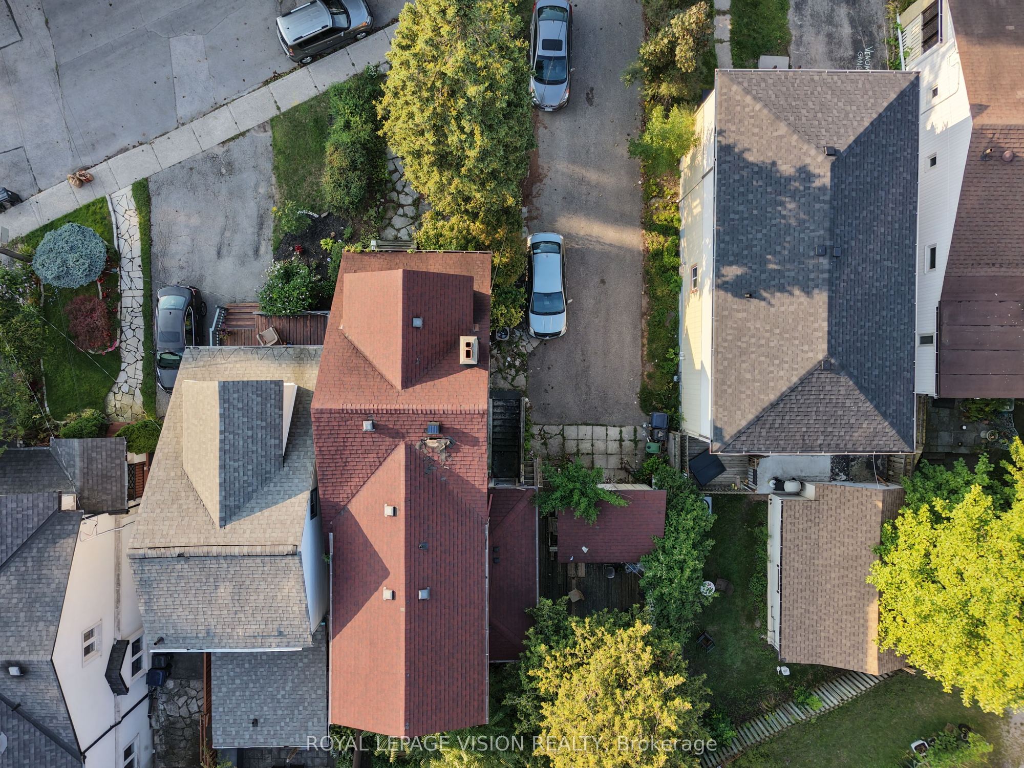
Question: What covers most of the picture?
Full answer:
For the most part, this view shows buildings.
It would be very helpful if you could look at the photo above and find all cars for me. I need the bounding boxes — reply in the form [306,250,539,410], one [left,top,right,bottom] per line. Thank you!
[150,284,208,393]
[529,0,577,109]
[525,233,572,340]
[271,0,375,66]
